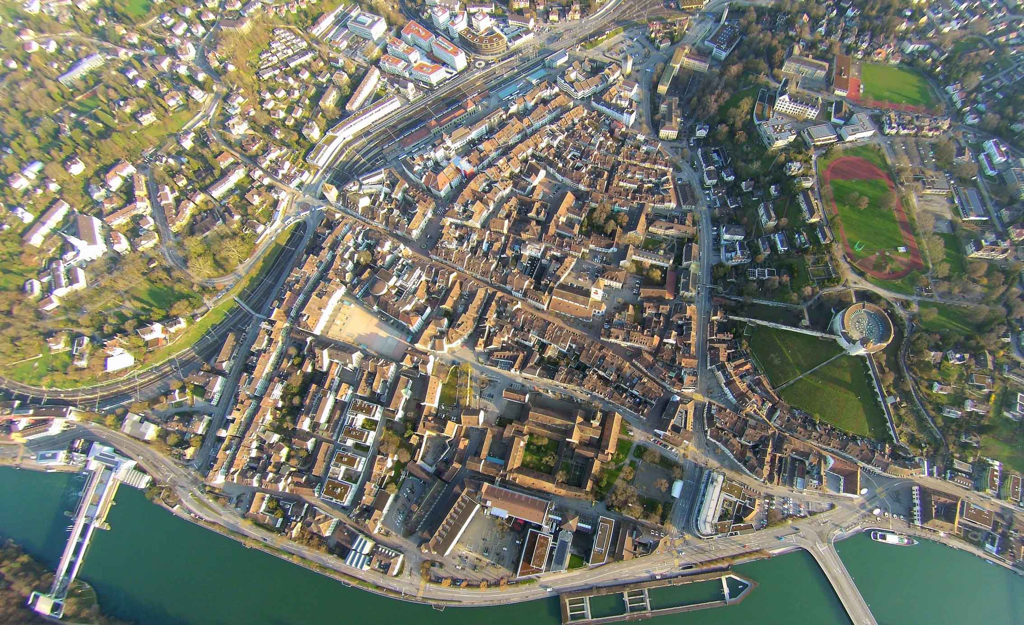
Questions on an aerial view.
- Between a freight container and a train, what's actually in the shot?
train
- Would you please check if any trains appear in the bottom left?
No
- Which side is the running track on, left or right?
right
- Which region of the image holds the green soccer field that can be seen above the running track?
top right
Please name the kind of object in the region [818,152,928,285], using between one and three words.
running track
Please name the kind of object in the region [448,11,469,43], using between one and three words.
building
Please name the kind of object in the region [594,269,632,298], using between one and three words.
house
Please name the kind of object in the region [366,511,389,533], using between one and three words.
house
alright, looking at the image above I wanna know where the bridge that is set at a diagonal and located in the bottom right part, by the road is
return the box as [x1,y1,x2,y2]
[801,537,878,625]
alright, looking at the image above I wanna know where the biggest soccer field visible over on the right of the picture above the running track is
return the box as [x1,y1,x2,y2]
[846,62,938,116]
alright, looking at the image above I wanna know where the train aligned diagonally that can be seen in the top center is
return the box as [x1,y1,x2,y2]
[383,96,470,149]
